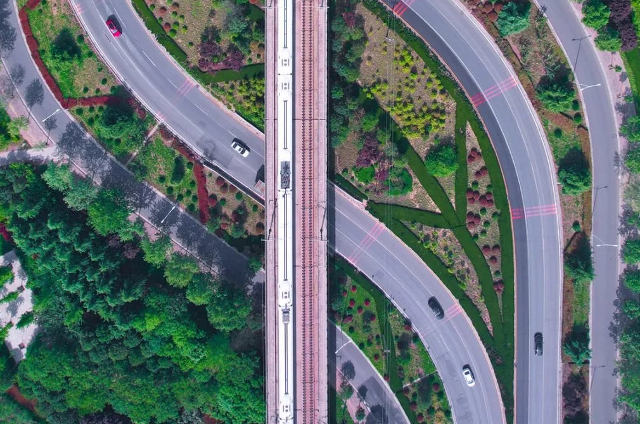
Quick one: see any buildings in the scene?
No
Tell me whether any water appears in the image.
No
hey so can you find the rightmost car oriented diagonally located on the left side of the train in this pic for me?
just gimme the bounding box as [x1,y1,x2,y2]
[230,139,251,155]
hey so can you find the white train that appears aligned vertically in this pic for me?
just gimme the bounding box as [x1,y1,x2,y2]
[276,0,293,424]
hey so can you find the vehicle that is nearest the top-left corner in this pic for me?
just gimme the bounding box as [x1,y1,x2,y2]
[106,16,122,37]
